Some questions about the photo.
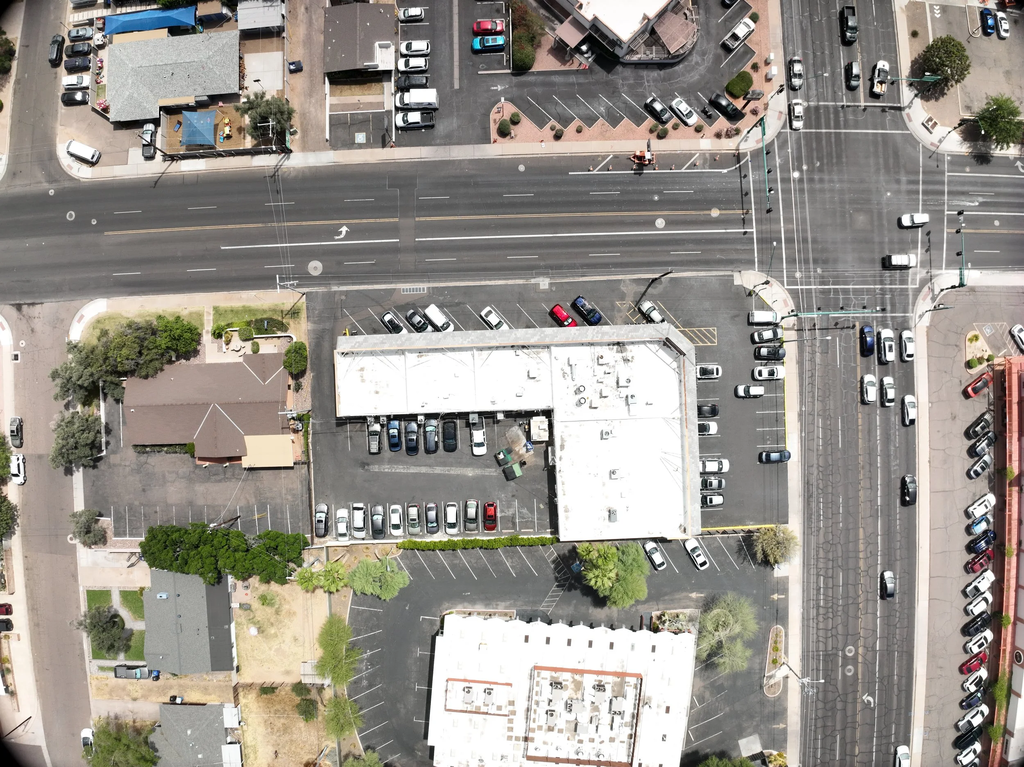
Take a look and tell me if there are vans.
Yes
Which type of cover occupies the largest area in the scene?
paved ground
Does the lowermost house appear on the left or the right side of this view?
left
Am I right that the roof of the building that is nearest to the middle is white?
Yes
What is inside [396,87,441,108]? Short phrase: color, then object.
white truck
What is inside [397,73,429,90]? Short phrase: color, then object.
gray car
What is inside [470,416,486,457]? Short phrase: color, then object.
white vehicle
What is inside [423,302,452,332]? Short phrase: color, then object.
white van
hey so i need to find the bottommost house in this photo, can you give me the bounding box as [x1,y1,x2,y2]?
[154,700,242,767]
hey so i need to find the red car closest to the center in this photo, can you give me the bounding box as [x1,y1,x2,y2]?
[550,302,575,327]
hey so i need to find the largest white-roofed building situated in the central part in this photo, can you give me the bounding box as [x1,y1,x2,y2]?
[334,322,701,542]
